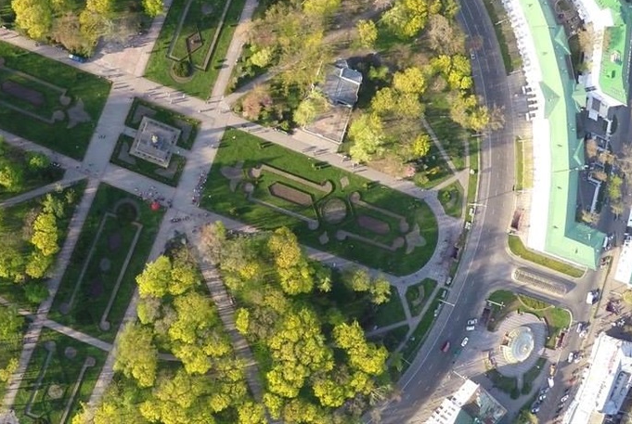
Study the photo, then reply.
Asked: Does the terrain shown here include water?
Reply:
No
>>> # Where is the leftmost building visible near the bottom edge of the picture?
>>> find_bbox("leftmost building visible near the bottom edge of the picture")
[428,375,507,424]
